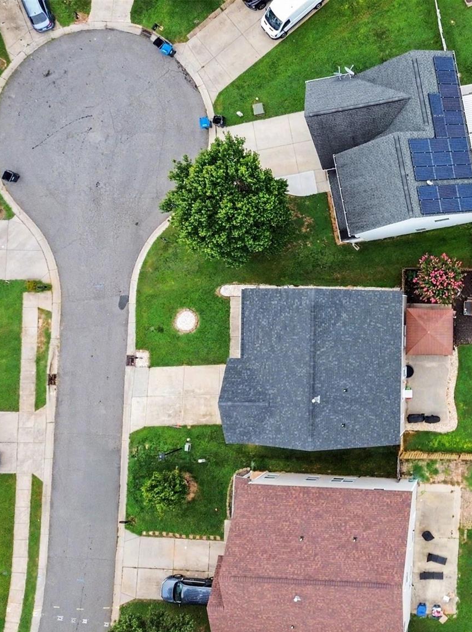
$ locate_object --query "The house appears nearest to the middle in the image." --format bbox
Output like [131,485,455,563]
[218,288,405,451]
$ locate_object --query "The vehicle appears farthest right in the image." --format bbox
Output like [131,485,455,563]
[260,0,326,42]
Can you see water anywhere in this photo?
No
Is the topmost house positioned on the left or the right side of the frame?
right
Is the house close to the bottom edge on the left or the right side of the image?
right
